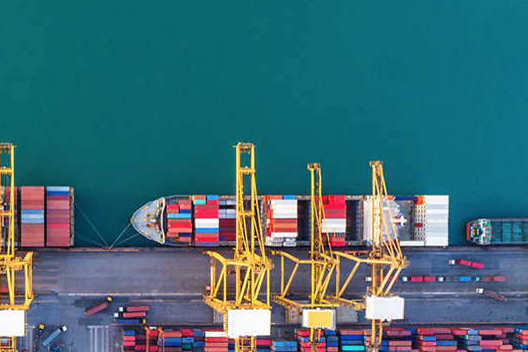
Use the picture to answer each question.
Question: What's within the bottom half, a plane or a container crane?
container crane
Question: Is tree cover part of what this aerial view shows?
No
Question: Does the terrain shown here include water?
Yes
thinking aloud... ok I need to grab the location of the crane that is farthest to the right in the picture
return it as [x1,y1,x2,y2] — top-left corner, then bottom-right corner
[329,162,412,352]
